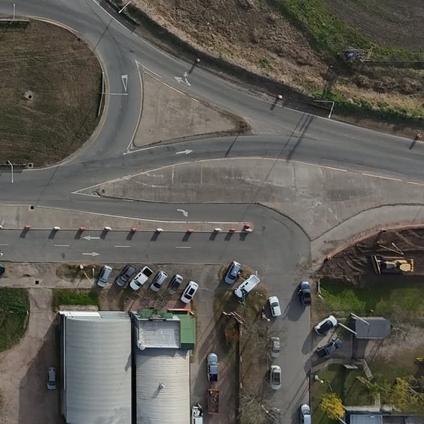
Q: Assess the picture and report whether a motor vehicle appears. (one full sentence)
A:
Yes, the frame does contain a motor vehicle.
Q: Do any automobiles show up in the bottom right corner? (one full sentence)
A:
Yes, an automobile appears in the bottom right corner.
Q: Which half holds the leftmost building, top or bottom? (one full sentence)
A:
Seen from above, the leftmost building lies in the bottom half of the view.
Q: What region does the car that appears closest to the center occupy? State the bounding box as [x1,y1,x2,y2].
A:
[225,260,243,285]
